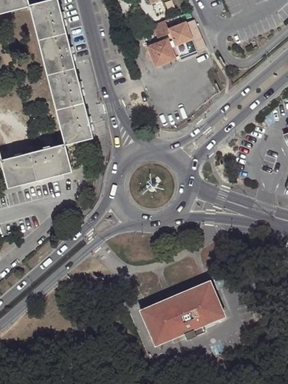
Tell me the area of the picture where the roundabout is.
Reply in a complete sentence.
Look in the center portion of the view to spot the roundabout.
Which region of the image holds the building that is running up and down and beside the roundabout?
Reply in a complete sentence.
Look in the top left portion of the view to spot the building that is running up and down and beside the roundabout.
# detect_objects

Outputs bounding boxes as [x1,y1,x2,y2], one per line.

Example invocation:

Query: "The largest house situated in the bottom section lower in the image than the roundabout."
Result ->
[140,280,226,347]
